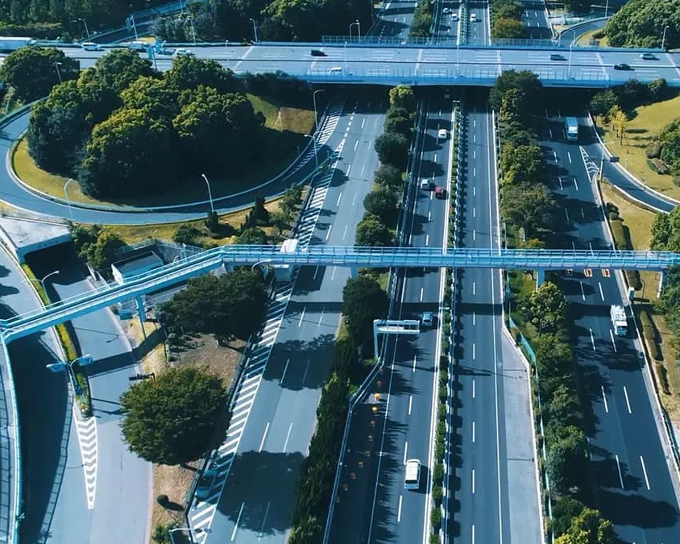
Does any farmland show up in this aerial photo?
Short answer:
No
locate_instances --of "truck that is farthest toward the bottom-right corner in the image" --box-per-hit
[607,305,631,339]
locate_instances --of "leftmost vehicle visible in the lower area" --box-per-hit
[195,470,216,498]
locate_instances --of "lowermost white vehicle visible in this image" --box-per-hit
[403,464,420,492]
